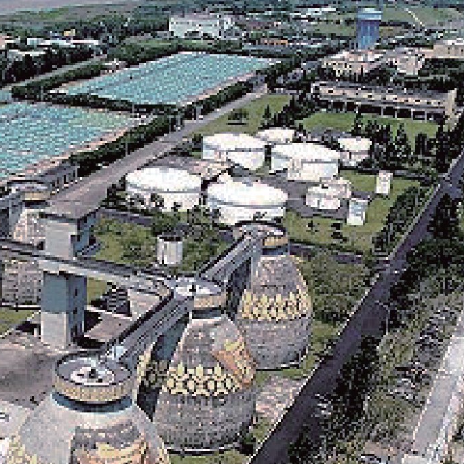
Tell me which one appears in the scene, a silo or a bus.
silo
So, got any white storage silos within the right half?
Yes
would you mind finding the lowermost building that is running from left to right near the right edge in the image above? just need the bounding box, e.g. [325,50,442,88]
[299,80,451,120]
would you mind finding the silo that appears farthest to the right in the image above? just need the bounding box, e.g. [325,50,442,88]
[373,167,395,195]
